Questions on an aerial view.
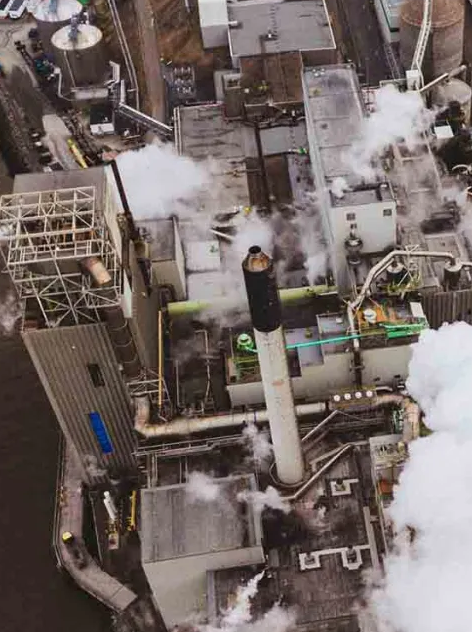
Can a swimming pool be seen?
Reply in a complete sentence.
No, the photo shows no swimming pool.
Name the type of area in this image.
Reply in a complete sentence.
The picture captures an industrial area.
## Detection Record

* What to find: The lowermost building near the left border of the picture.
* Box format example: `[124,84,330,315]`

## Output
[2,163,179,475]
